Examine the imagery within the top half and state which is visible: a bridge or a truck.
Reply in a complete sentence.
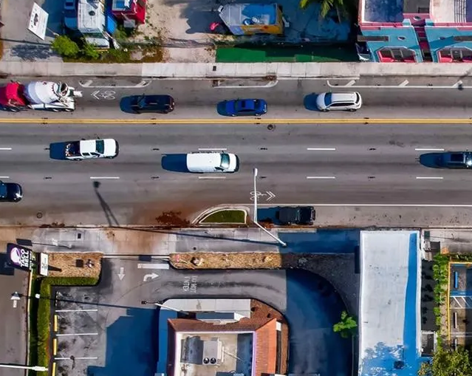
There is a truck within the top half.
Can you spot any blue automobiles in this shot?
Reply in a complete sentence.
Yes, the frame does contain a blue automobile.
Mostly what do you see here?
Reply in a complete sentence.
The scene is dominated by paved ground.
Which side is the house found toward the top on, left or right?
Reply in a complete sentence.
It is on the right.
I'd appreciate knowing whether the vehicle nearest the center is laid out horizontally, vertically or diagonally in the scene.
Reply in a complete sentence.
I'd say the vehicle nearest the center is aligned horizontally in the picture.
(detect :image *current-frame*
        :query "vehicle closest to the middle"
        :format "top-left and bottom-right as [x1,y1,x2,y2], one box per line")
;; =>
[186,150,239,173]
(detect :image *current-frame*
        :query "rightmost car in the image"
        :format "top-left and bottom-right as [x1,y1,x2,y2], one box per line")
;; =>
[442,149,472,171]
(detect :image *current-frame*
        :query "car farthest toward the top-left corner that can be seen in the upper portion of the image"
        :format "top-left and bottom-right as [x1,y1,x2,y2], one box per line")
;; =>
[60,0,78,30]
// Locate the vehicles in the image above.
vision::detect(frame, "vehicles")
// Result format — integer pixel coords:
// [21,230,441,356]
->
[66,136,120,159]
[0,180,25,202]
[226,96,269,118]
[77,0,114,57]
[132,91,177,114]
[316,90,362,113]
[351,23,370,59]
[0,80,84,113]
[276,204,316,225]
[60,0,78,30]
[442,149,472,171]
[186,150,239,173]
